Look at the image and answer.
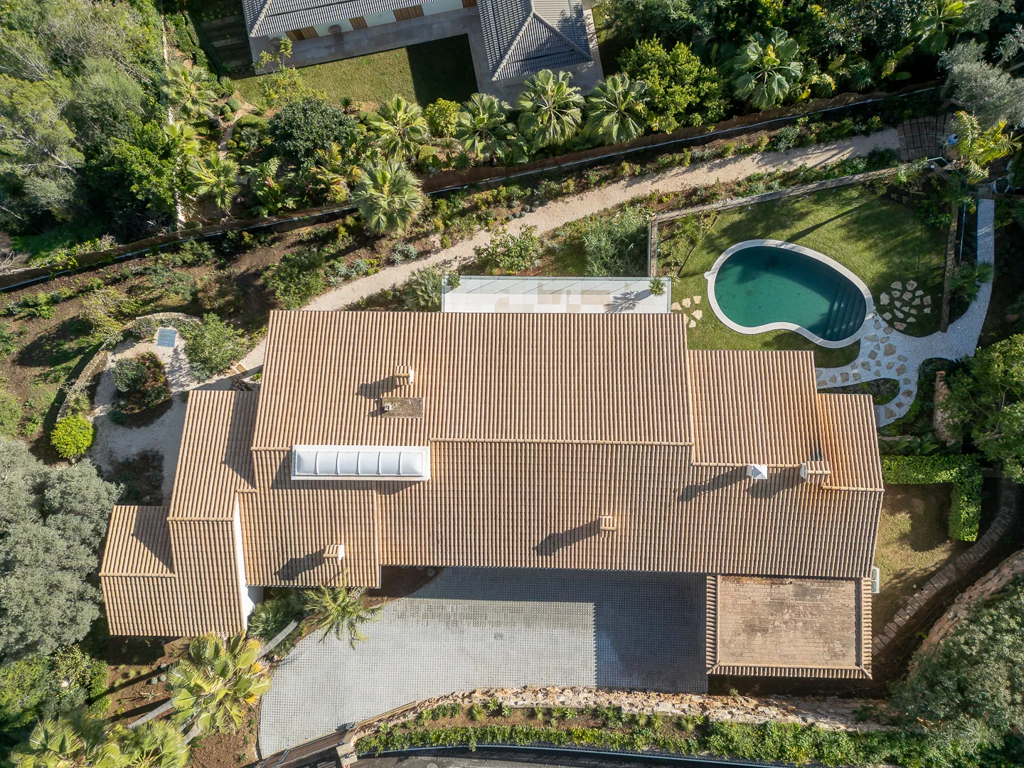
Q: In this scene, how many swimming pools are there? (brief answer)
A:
1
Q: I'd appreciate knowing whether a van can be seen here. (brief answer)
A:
No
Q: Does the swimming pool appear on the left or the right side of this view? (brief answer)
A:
right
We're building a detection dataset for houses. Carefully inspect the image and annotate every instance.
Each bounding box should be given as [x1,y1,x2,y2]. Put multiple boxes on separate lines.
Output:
[249,0,594,82]
[97,308,890,637]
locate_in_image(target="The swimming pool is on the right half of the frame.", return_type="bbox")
[702,239,874,348]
